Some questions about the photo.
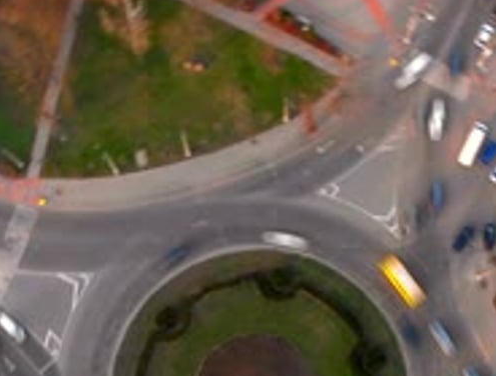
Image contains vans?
Yes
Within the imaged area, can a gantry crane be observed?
No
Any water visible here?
No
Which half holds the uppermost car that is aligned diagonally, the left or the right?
right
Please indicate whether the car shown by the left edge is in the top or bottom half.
bottom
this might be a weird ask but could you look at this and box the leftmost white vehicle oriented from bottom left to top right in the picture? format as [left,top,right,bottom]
[396,46,433,87]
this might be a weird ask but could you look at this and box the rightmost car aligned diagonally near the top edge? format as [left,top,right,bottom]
[474,17,496,50]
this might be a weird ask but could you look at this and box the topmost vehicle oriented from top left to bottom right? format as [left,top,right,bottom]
[377,251,430,306]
